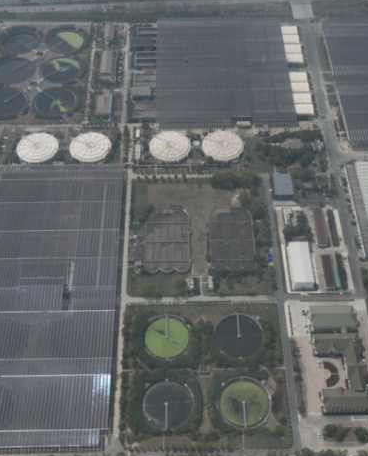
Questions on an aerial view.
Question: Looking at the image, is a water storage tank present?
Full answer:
Yes, there's a water storage tank down there.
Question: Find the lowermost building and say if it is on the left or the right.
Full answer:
The lowermost building is on the right side of the image.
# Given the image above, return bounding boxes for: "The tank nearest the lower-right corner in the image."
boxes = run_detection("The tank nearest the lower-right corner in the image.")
[217,376,273,430]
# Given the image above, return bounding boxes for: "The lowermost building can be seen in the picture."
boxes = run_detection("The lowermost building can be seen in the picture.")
[319,383,368,414]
